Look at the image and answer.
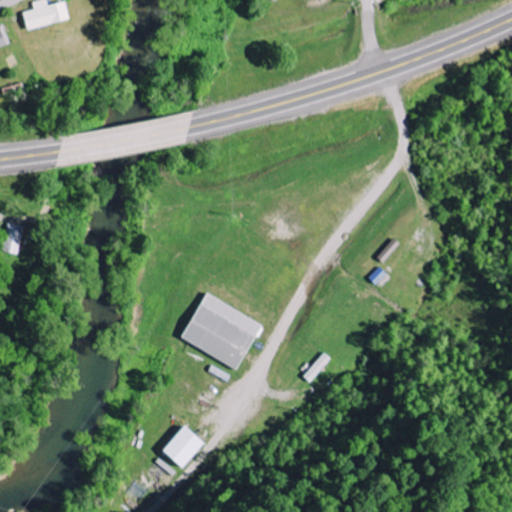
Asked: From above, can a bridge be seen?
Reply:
Yes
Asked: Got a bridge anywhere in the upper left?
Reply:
Yes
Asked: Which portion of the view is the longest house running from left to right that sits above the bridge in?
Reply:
top left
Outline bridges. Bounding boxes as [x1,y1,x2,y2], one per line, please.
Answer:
[56,108,194,170]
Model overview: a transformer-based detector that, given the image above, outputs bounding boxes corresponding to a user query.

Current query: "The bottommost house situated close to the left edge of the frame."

[2,224,20,255]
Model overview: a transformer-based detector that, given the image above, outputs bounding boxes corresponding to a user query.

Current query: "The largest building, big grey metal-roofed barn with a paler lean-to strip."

[180,292,265,370]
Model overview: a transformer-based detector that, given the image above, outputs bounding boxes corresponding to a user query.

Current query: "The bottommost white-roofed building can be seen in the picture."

[162,425,205,469]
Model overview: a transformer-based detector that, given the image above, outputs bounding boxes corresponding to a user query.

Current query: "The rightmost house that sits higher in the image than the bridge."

[22,1,70,30]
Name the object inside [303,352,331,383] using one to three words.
house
